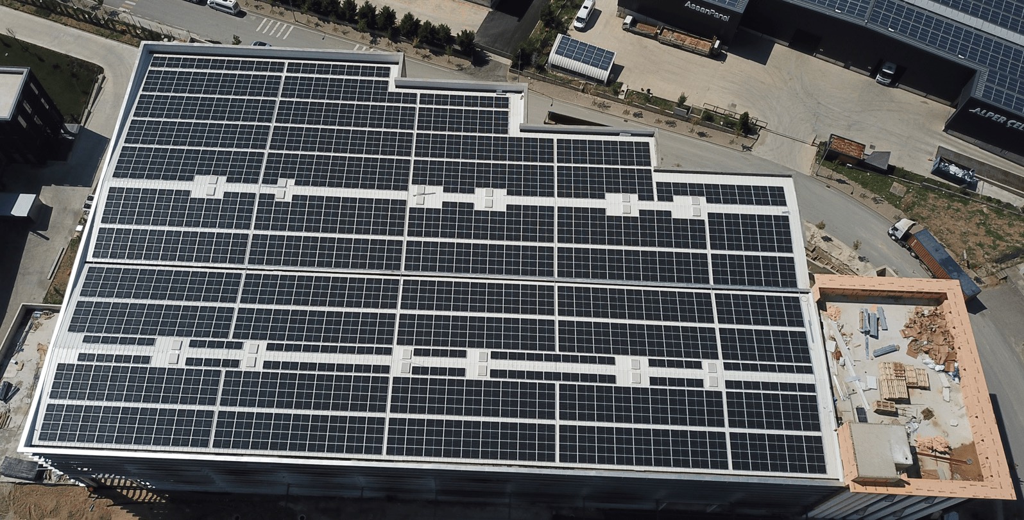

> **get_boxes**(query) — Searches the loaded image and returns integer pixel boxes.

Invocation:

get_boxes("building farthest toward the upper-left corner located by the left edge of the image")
[0,67,64,168]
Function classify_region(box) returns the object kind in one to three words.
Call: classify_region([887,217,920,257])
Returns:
vehicle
